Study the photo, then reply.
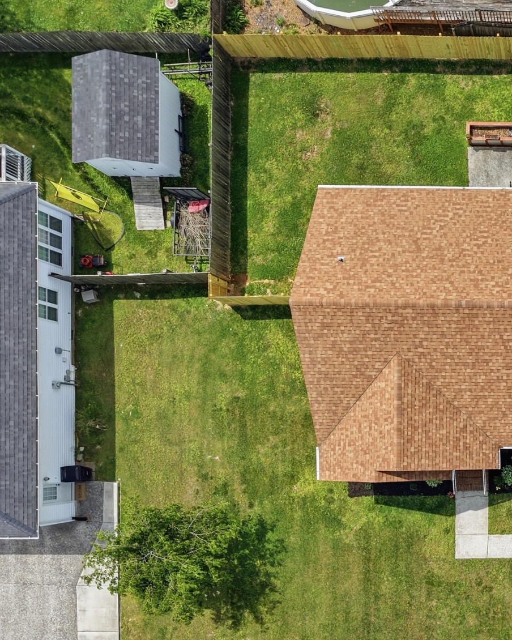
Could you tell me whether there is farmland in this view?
No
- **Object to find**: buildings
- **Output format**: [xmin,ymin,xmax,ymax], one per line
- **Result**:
[0,178,77,543]
[70,48,181,176]
[291,186,512,495]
